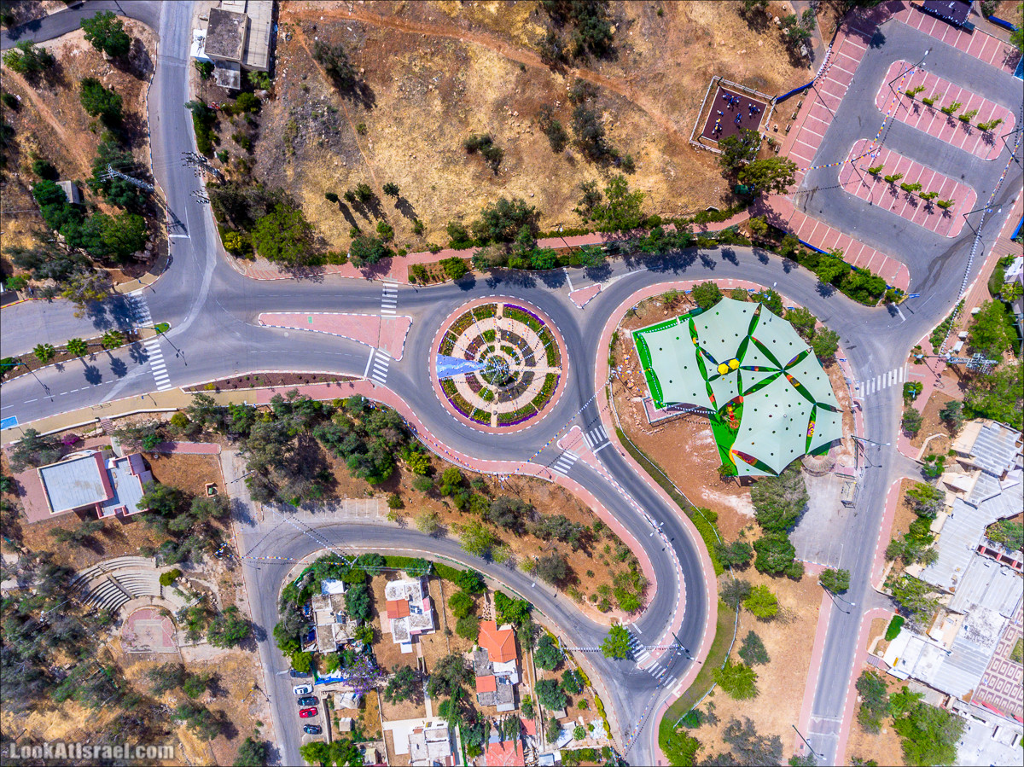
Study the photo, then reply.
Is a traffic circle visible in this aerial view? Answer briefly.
Yes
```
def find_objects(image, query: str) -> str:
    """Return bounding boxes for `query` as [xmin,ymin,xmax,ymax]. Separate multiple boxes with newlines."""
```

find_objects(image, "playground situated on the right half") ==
[631,300,841,477]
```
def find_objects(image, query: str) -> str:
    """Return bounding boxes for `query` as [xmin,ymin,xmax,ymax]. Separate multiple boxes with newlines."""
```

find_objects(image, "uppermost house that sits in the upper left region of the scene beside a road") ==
[204,0,279,93]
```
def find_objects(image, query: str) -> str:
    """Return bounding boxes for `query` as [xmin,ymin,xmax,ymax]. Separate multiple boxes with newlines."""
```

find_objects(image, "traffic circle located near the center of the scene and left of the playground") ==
[413,279,584,450]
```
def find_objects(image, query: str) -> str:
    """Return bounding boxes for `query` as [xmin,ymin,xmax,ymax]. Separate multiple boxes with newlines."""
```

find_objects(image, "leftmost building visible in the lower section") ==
[36,449,160,518]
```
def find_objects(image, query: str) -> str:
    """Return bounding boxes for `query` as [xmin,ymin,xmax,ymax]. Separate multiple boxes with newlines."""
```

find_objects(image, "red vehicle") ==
[297,707,319,720]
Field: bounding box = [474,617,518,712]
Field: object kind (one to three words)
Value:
house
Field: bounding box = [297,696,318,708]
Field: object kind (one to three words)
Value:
vehicle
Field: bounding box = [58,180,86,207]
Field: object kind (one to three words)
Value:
shed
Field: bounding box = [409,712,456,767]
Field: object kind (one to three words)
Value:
house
